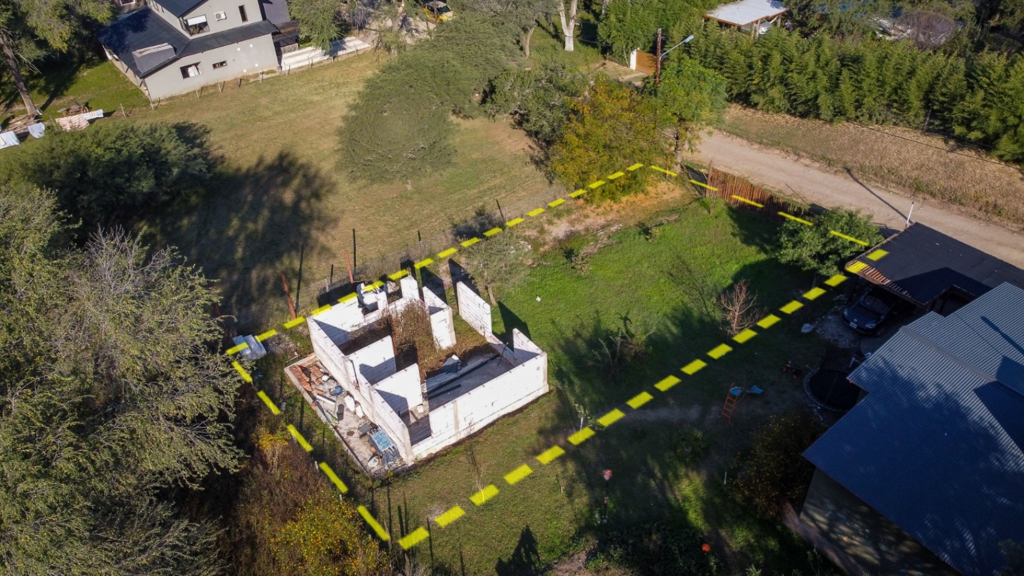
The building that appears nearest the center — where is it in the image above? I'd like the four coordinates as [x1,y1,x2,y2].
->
[312,274,553,466]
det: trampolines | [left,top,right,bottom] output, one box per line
[804,365,854,412]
